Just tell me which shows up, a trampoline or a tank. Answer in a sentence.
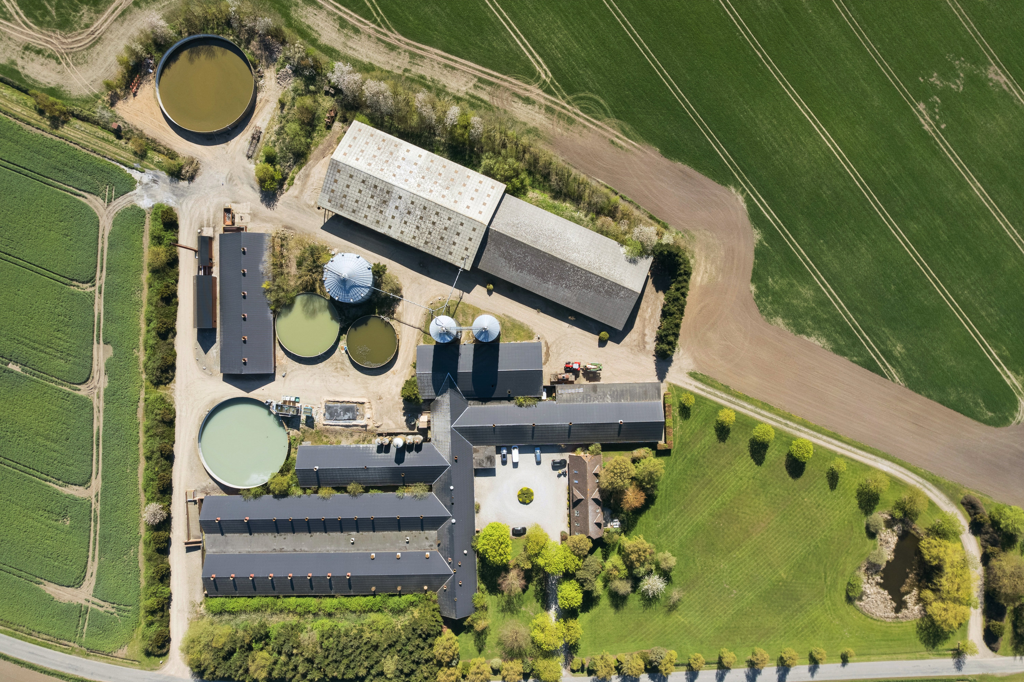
The one in the frame is a tank.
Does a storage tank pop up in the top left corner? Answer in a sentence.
Yes, a storage tank shows up in the top left corner.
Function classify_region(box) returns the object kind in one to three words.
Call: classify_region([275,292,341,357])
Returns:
storage tank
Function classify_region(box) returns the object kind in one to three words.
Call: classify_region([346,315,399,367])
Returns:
storage tank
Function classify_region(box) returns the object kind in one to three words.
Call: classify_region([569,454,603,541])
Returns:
house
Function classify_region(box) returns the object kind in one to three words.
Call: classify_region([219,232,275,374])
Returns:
building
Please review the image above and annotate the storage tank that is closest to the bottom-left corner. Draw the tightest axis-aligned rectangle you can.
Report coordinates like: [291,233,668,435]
[198,397,292,488]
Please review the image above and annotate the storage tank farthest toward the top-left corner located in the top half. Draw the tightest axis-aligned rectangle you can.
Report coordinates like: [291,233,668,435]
[155,33,257,135]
